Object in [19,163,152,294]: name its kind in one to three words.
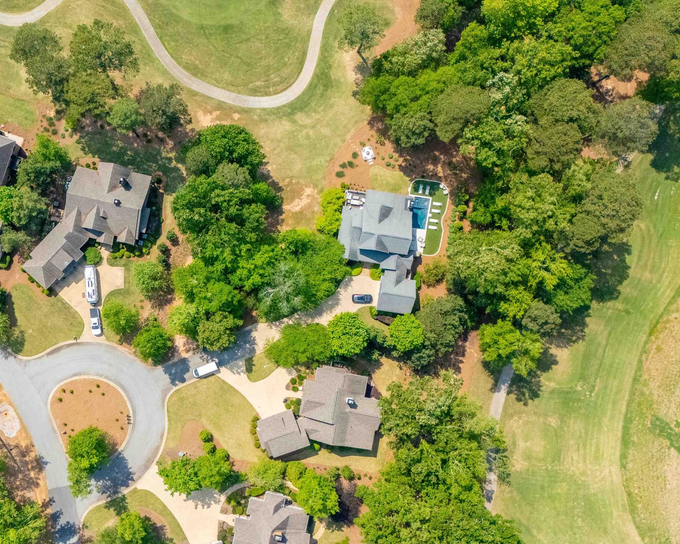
house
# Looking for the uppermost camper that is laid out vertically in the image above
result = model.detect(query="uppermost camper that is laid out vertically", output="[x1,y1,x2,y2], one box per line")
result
[83,265,99,307]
